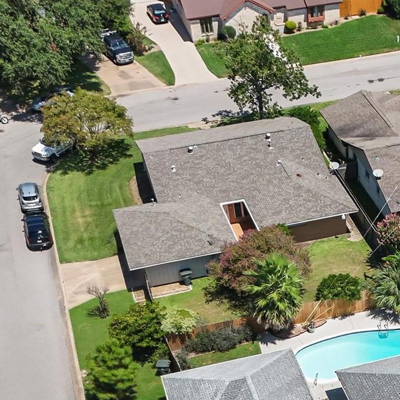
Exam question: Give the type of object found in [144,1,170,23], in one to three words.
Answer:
car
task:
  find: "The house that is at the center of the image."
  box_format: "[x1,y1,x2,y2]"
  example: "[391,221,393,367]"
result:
[113,117,359,291]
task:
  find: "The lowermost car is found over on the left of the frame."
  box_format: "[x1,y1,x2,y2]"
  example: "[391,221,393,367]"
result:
[20,216,55,253]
